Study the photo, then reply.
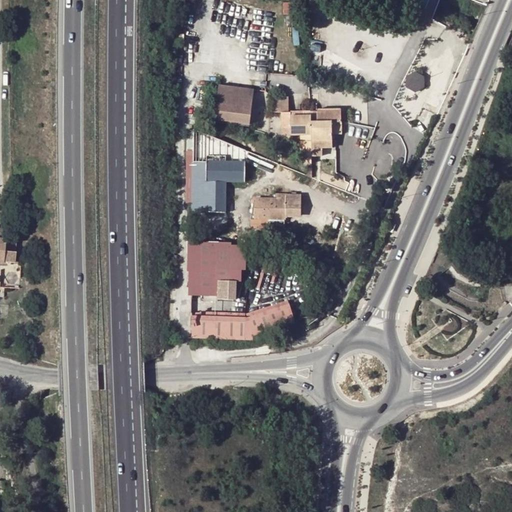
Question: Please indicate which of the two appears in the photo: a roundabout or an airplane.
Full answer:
The one in the frame is a roundabout.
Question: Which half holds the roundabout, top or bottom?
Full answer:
It is in the bottom half that the roundabout appears.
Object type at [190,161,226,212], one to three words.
building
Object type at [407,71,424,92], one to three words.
gazebo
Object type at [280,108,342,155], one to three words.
house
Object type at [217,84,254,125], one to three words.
hangar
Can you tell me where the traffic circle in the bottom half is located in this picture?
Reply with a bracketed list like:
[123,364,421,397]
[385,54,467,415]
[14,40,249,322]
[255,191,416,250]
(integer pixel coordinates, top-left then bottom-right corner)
[316,332,408,424]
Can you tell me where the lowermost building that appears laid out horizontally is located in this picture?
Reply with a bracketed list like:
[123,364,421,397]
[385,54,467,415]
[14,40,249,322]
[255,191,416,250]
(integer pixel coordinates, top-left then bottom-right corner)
[191,299,292,340]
